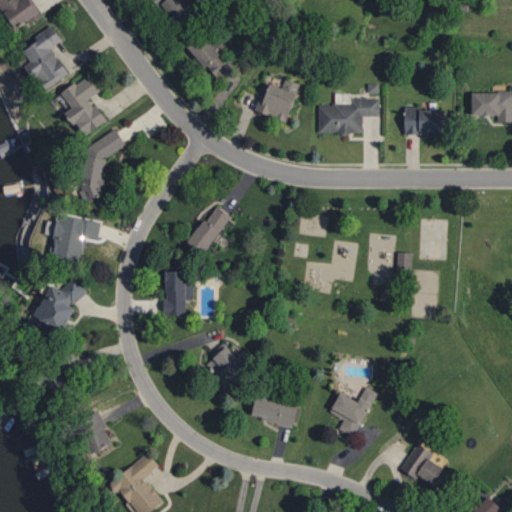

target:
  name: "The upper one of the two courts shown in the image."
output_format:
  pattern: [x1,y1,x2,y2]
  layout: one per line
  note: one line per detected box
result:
[420,219,448,262]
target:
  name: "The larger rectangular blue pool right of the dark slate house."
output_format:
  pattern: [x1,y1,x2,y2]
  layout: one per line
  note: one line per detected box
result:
[195,278,219,320]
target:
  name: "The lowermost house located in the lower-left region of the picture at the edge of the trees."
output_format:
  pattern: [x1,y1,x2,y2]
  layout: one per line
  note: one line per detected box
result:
[108,455,164,512]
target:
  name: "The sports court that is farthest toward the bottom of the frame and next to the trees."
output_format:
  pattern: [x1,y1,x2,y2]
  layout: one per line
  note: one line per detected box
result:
[412,270,439,319]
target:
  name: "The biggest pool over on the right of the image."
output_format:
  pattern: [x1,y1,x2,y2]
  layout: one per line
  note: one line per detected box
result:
[336,359,372,398]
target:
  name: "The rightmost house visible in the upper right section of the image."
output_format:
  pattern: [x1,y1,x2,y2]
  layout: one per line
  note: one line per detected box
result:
[472,84,512,123]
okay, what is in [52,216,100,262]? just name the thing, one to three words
house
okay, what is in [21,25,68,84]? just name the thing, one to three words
house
